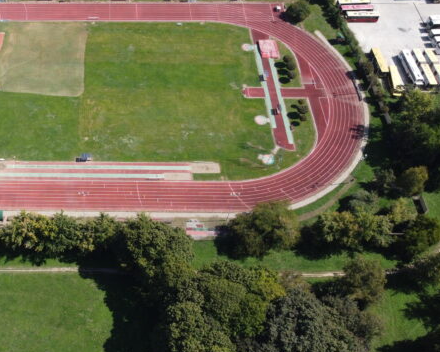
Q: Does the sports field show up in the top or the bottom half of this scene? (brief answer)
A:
top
